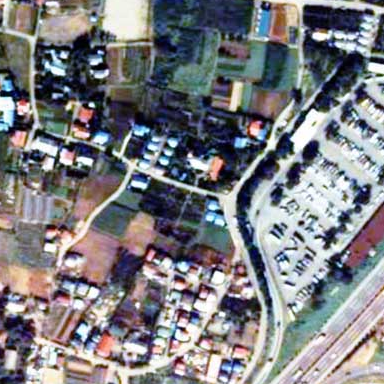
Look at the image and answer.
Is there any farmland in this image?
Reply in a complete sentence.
Yes, there's farmland in this view.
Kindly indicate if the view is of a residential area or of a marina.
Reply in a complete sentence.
The picture captures a residential area.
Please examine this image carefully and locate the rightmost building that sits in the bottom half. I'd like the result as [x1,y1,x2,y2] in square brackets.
[344,208,384,268]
